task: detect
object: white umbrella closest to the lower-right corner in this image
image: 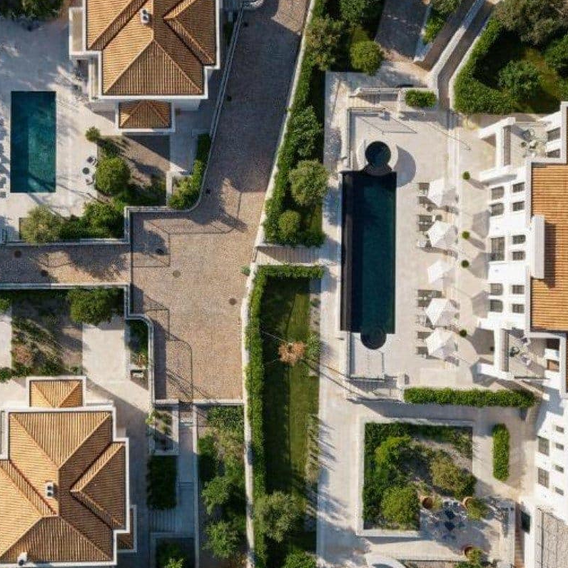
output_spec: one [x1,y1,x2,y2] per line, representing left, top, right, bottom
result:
[425,326,455,359]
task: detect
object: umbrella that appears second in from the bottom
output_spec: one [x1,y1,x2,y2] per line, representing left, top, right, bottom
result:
[424,295,455,328]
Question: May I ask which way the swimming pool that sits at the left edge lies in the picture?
vertically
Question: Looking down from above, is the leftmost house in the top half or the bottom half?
bottom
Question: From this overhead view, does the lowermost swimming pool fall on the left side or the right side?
right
